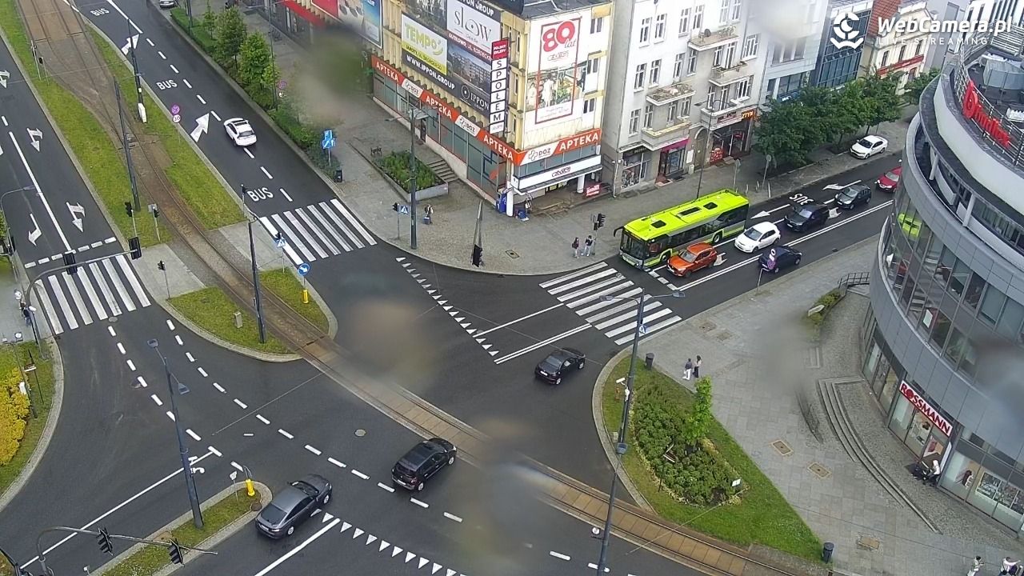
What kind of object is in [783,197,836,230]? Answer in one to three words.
car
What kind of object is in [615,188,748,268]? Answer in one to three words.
bus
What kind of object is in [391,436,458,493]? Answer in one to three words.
car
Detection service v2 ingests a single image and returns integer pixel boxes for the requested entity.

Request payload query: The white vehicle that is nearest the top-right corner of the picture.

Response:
[848,135,893,159]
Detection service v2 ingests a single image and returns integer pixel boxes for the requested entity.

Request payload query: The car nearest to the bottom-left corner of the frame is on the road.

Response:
[256,475,336,540]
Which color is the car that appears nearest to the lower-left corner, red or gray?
gray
